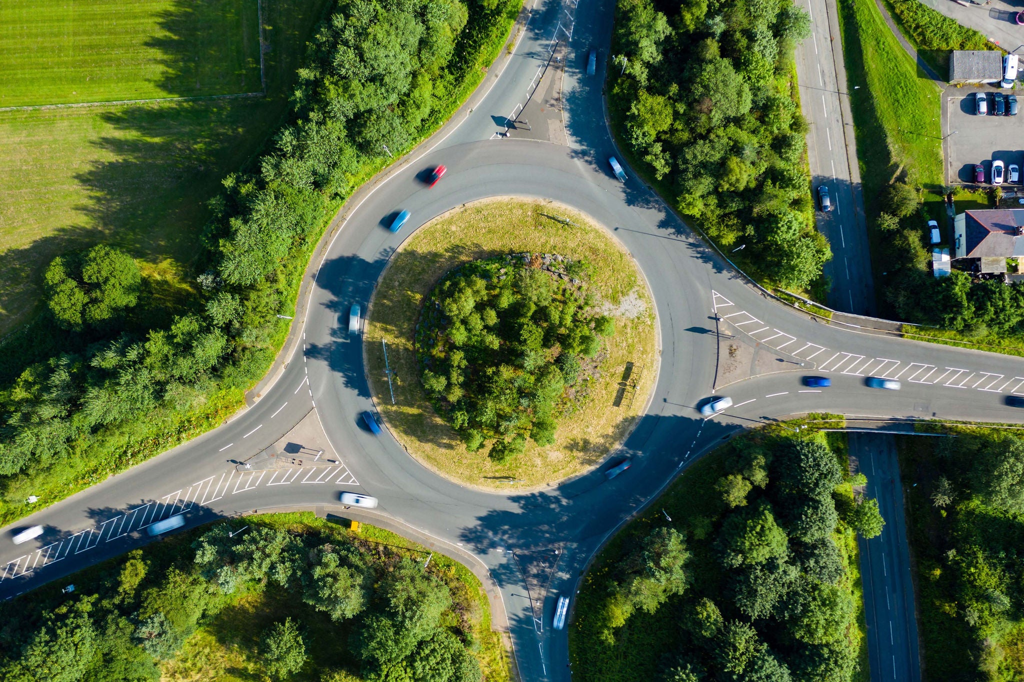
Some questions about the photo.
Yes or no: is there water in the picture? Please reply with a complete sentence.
No, no water is visible.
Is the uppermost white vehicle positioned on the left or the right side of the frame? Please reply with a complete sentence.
It is on the right.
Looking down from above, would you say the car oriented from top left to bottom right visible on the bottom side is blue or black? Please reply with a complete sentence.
The car oriented from top left to bottom right visible on the bottom side looks blue in the image.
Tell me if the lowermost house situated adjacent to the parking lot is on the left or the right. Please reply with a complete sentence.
The lowermost house situated adjacent to the parking lot appears in the right half of the scene.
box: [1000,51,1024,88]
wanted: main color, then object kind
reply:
white vehicle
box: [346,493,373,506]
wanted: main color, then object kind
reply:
white vehicle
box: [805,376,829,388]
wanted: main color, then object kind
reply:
blue vehicle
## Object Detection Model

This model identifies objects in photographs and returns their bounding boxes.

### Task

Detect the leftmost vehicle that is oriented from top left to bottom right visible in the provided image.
[363,411,383,434]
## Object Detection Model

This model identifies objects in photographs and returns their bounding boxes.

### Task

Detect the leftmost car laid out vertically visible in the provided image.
[348,306,360,332]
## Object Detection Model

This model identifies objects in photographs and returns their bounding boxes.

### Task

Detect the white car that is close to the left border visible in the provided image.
[14,525,42,543]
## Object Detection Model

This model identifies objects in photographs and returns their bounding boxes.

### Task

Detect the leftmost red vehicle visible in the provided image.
[428,166,447,189]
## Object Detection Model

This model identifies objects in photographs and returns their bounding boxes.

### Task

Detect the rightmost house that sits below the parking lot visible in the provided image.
[954,210,1024,273]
